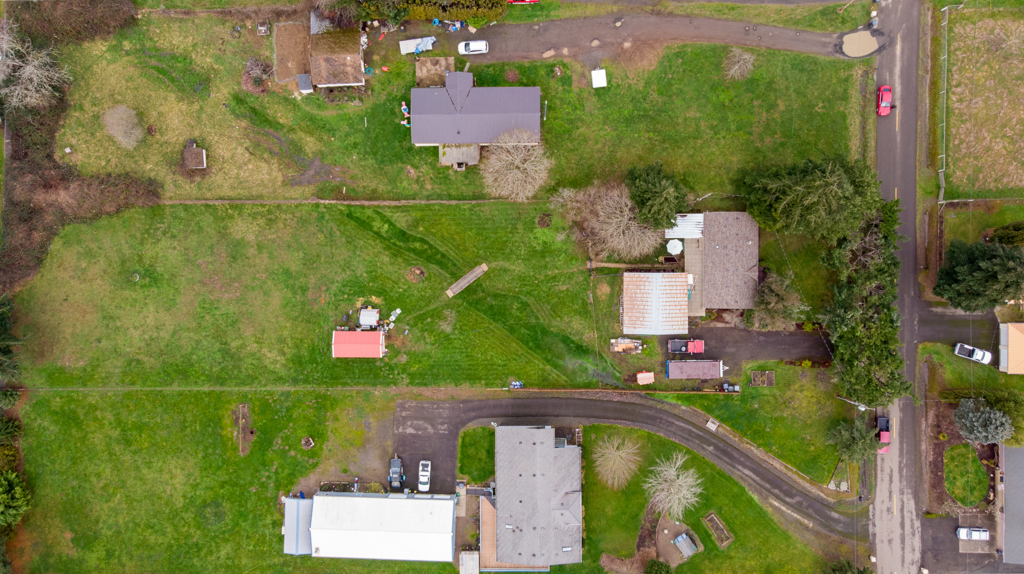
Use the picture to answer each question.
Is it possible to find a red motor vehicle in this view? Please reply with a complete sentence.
Yes, you can see a red motor vehicle in this photo.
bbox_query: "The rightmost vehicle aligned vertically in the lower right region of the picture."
[874,418,891,454]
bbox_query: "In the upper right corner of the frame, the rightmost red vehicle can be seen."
[876,85,893,116]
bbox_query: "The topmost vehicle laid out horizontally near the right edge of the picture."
[953,343,992,363]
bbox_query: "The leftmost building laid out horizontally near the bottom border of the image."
[309,490,455,562]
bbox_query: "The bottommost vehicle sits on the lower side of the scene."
[957,526,992,542]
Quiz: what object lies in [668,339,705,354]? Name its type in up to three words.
vehicle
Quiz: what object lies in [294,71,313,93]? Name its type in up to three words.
shed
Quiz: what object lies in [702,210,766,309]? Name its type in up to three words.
house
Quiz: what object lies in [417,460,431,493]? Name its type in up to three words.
vehicle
